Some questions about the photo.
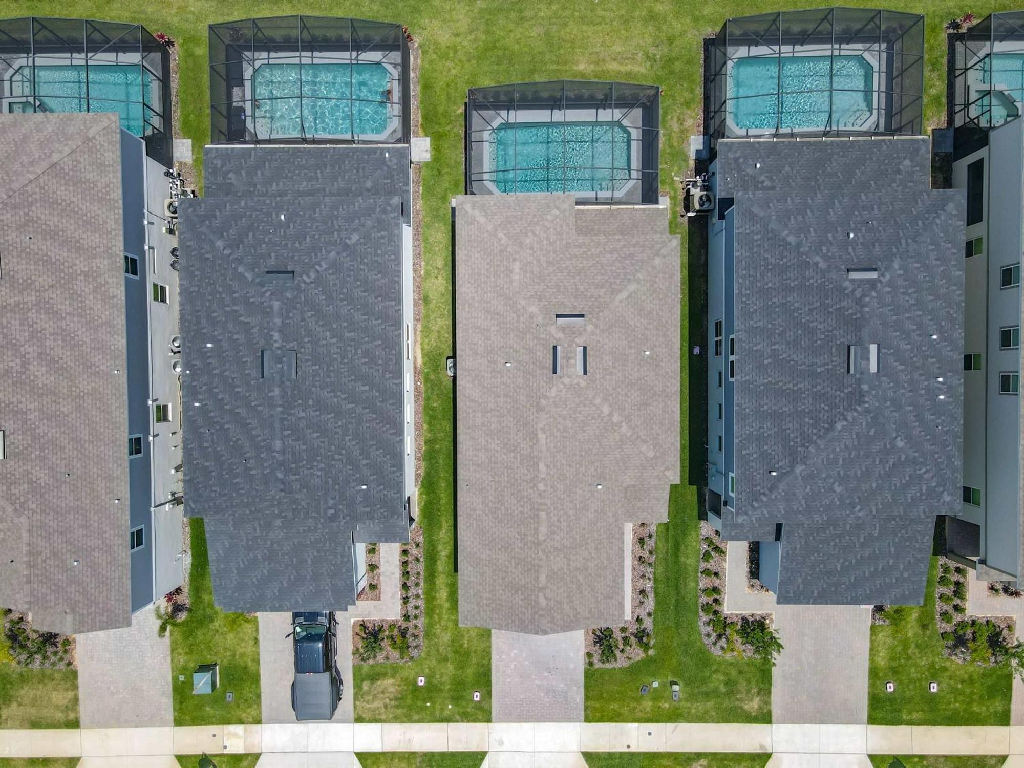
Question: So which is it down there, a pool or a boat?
pool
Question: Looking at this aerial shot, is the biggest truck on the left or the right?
left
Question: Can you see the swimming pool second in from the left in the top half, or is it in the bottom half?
top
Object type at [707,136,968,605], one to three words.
house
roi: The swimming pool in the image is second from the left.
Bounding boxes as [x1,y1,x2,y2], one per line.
[245,53,398,139]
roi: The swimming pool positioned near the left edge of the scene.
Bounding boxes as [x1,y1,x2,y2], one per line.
[0,53,159,140]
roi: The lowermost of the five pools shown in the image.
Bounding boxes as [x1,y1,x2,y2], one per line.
[482,110,638,198]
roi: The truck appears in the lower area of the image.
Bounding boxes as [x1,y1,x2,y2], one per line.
[285,612,344,719]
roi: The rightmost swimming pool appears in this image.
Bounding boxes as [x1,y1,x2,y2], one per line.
[966,42,1024,134]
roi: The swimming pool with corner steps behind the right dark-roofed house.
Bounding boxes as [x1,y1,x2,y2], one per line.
[728,45,880,133]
